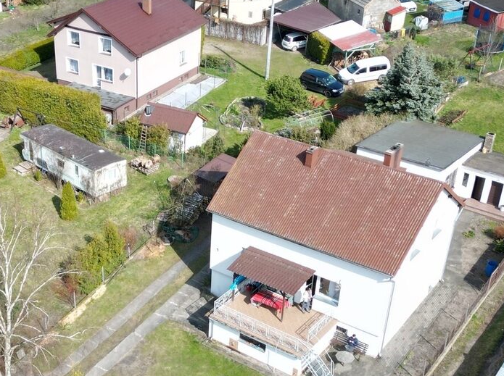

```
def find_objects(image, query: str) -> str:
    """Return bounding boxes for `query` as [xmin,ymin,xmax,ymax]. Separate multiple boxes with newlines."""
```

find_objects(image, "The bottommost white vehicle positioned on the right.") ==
[343,55,388,83]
